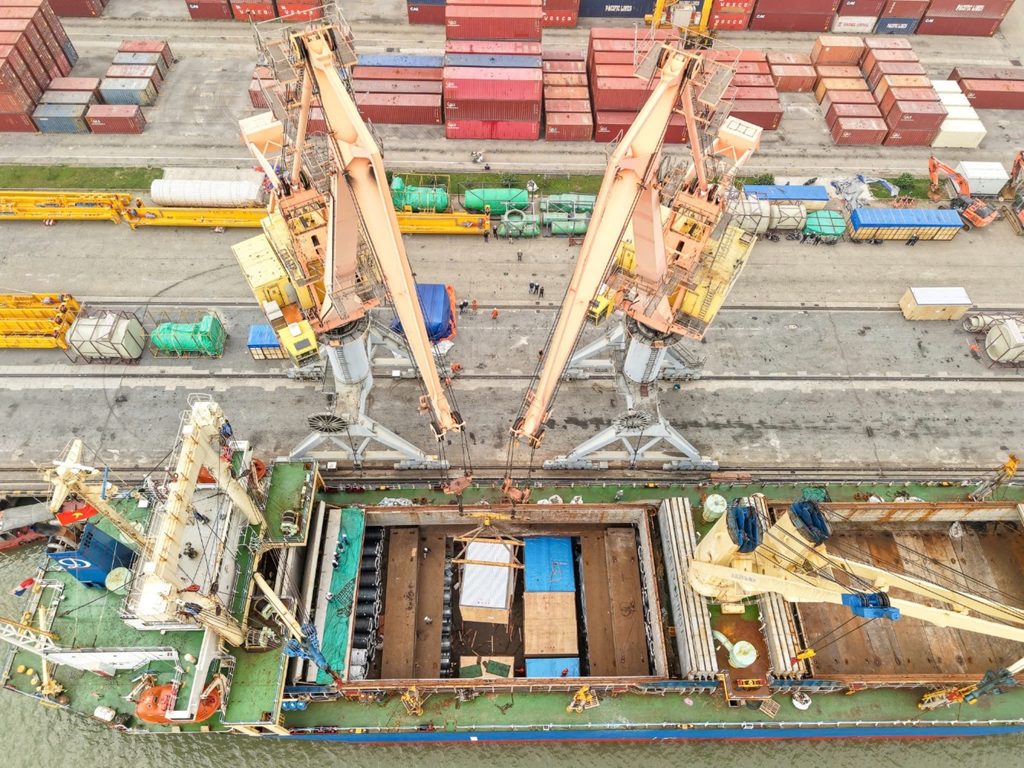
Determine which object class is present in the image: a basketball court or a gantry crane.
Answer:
gantry crane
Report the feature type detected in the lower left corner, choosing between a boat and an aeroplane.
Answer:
boat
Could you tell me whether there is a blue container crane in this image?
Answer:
No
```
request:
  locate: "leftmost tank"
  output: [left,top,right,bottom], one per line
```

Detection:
[57,311,148,365]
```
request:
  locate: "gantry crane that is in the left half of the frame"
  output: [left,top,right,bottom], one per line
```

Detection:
[231,0,479,500]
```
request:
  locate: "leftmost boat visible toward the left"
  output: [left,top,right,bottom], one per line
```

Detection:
[0,485,80,563]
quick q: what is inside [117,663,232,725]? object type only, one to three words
boat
